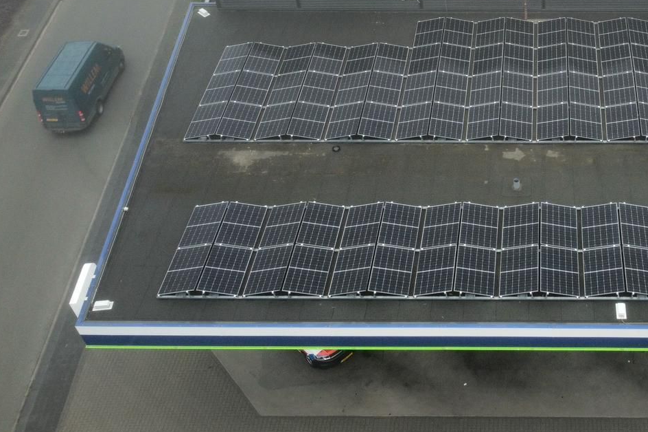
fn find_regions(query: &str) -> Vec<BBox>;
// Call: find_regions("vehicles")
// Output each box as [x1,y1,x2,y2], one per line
[31,38,126,132]
[293,349,356,372]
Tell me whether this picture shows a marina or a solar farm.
solar farm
